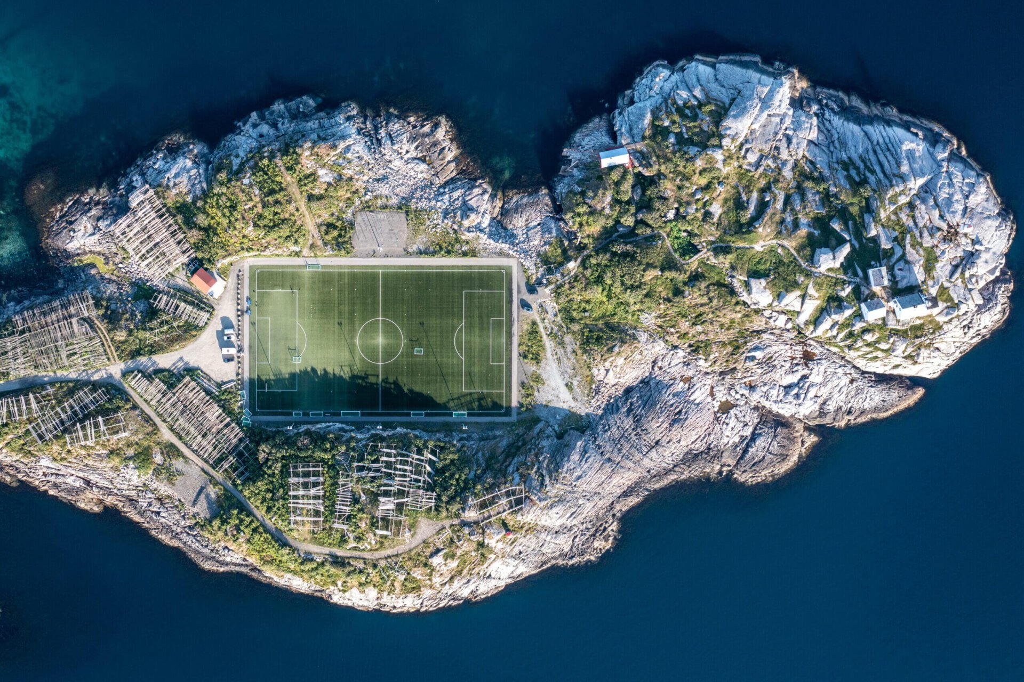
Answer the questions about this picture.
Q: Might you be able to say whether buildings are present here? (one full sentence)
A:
Yes, there is a building in the image.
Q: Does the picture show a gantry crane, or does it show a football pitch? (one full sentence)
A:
Visible in the photo is a football pitch.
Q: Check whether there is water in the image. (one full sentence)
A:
Yes, water can be seen from above here.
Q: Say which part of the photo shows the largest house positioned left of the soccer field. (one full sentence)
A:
The largest house positioned left of the soccer field sits in the left section of the image.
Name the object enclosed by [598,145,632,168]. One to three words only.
house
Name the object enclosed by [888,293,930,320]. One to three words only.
house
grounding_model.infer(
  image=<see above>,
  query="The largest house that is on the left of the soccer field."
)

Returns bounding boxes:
[190,268,217,293]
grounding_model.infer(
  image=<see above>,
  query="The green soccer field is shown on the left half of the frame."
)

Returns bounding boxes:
[249,265,512,417]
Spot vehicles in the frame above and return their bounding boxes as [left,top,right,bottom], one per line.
[220,348,236,354]
[522,305,534,314]
[222,357,234,363]
[223,328,235,334]
[528,290,538,295]
[223,335,234,340]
